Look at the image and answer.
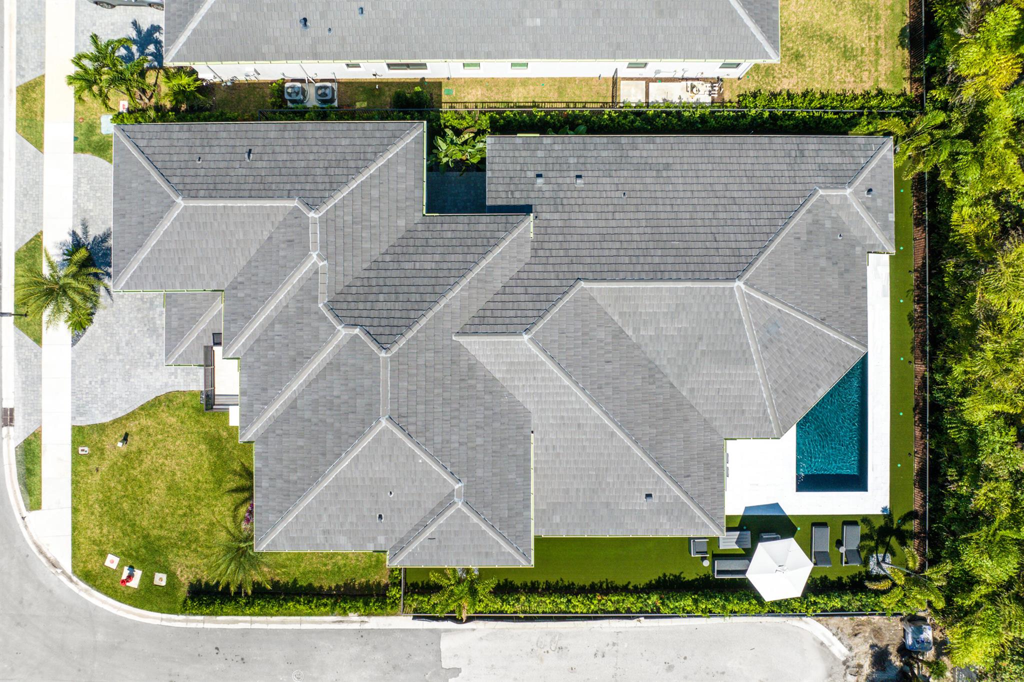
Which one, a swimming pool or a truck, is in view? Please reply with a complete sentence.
The image shows a swimming pool.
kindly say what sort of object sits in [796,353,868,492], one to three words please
swimming pool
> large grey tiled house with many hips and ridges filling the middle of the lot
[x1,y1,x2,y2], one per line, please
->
[110,121,897,570]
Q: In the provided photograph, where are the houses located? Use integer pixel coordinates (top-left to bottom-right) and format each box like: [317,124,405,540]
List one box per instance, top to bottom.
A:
[162,0,781,84]
[110,121,897,570]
